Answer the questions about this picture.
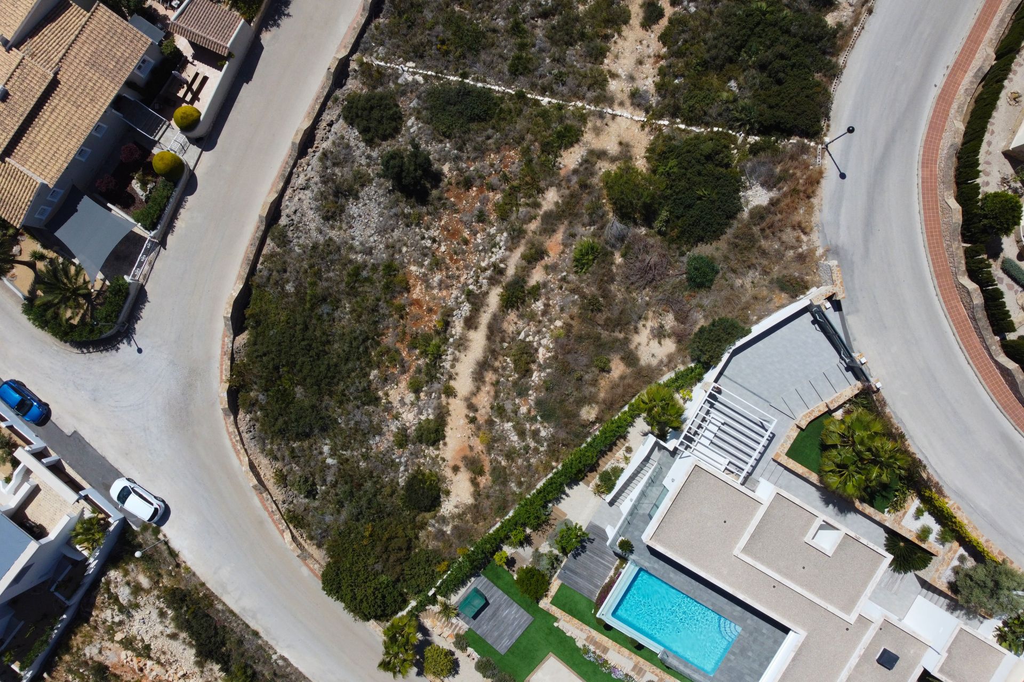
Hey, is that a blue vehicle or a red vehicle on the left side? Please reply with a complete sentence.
The feature located on the left side is a blue vehicle.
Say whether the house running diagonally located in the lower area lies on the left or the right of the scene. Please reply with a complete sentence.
You can find the house running diagonally located in the lower area on the right side of the picture.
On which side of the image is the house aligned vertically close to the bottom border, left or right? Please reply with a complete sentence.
The house aligned vertically close to the bottom border is on the left side of the image.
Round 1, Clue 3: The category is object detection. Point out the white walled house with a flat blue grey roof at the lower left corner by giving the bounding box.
[0,447,96,650]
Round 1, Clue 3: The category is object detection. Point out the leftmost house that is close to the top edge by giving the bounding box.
[0,0,170,231]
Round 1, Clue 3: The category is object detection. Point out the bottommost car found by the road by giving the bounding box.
[106,479,160,525]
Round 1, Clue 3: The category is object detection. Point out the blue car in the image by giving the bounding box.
[0,381,45,425]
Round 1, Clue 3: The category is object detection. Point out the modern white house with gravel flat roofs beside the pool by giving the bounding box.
[633,451,1024,682]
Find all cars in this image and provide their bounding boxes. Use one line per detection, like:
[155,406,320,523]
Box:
[106,479,160,525]
[0,381,45,425]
